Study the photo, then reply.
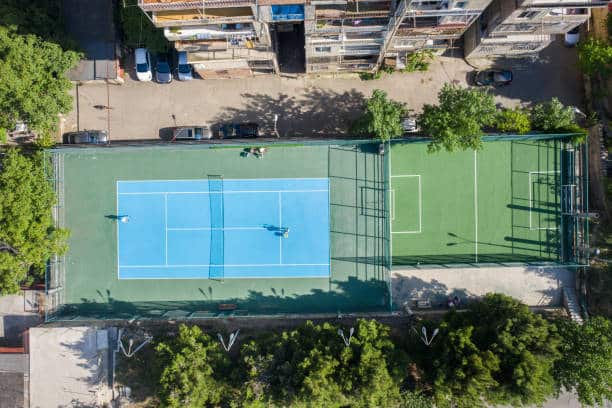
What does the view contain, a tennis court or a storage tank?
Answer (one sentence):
The image shows a tennis court.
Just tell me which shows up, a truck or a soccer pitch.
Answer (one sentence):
Of the two, only a soccer pitch appears.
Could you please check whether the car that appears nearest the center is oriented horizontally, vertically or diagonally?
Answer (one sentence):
In this picture, the car that appears nearest the center is oriented horizontally.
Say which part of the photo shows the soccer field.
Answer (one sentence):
You can find the soccer field in the right area of the picture.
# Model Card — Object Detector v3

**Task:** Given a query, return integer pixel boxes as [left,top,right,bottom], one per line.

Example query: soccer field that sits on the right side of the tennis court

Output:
[388,140,563,263]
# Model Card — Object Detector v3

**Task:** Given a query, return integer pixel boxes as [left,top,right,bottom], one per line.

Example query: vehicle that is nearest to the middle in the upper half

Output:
[218,121,259,141]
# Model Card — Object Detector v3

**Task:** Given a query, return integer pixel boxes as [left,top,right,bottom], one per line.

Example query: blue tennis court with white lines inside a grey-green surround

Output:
[65,145,385,315]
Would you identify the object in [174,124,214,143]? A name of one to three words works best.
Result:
car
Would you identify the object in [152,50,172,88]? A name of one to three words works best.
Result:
car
